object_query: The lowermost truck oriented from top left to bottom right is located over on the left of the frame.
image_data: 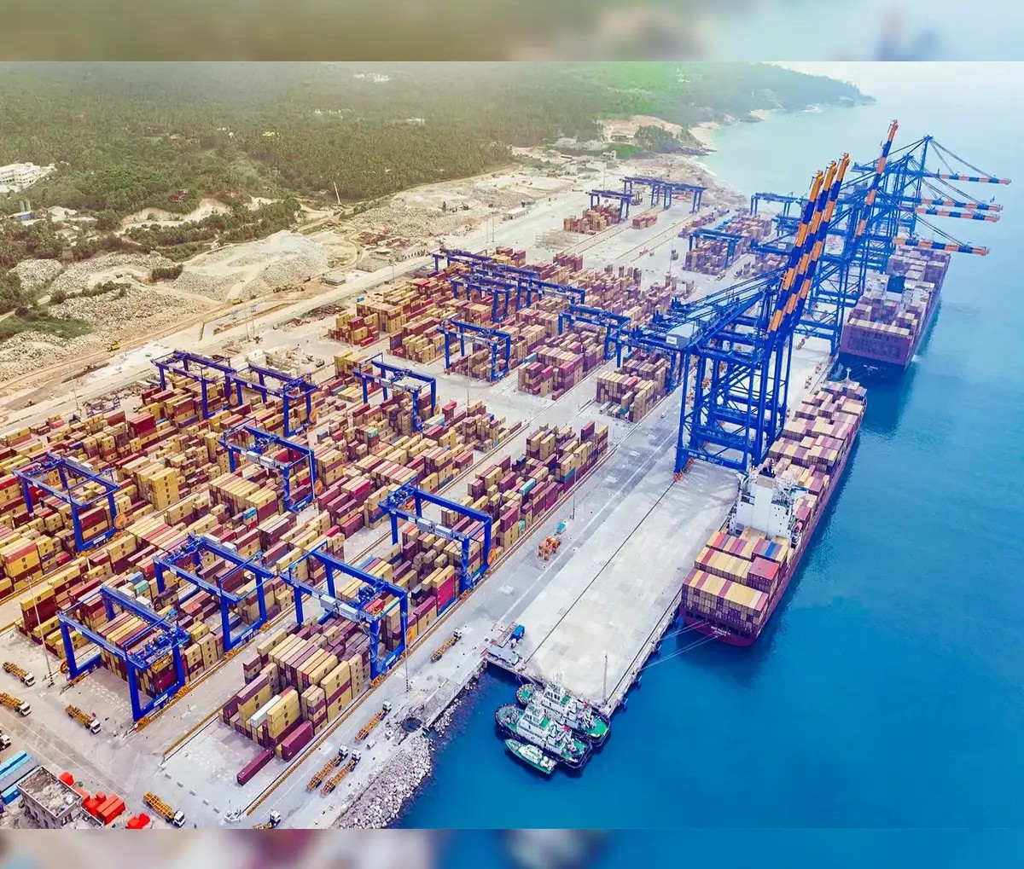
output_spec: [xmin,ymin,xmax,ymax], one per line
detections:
[140,791,183,830]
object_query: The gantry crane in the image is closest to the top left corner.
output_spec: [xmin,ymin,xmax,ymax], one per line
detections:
[154,339,236,420]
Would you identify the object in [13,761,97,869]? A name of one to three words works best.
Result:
building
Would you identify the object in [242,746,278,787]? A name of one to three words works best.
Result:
shipping container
